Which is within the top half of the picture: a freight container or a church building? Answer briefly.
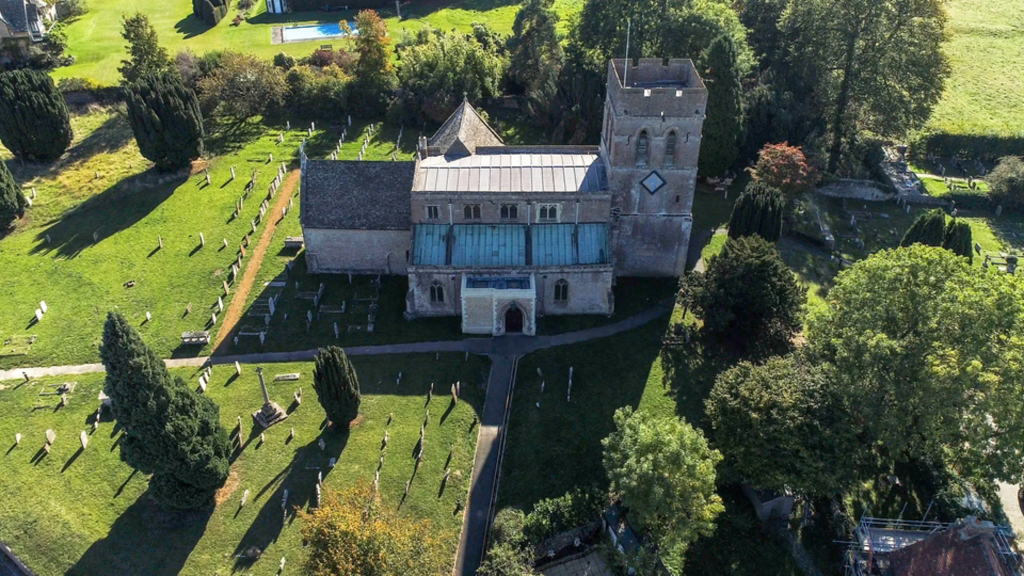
church building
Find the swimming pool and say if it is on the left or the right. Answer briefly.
left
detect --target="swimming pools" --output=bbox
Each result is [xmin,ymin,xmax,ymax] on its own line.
[272,22,362,44]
